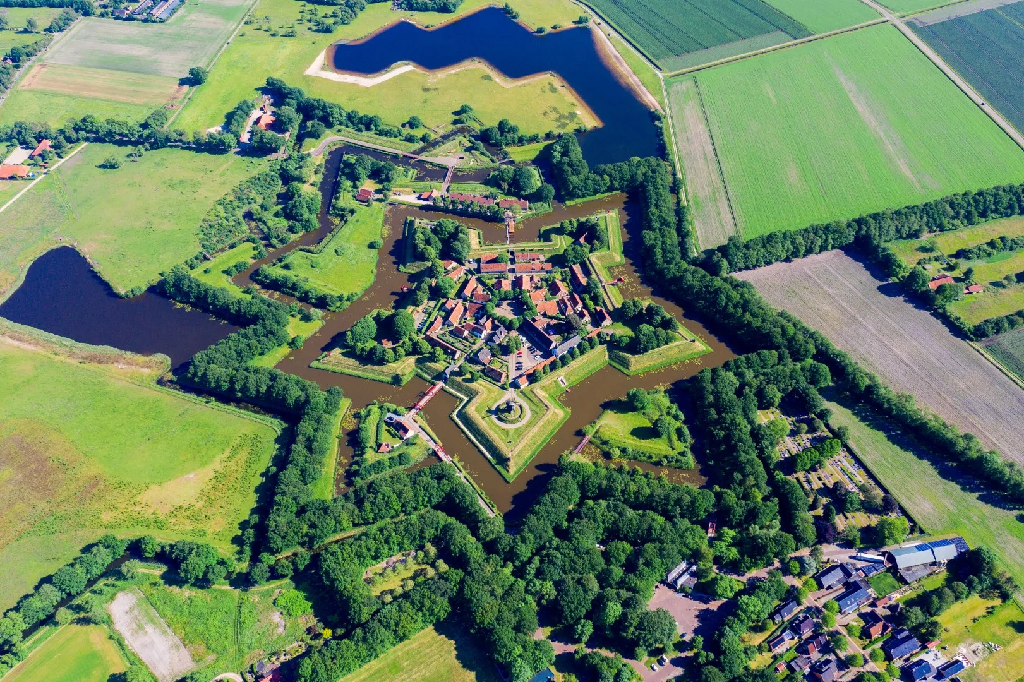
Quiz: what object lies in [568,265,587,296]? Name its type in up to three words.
house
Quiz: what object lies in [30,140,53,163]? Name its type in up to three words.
house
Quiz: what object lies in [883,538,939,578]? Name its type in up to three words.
barn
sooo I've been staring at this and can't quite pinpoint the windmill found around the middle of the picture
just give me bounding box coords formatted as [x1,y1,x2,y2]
[496,387,522,418]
